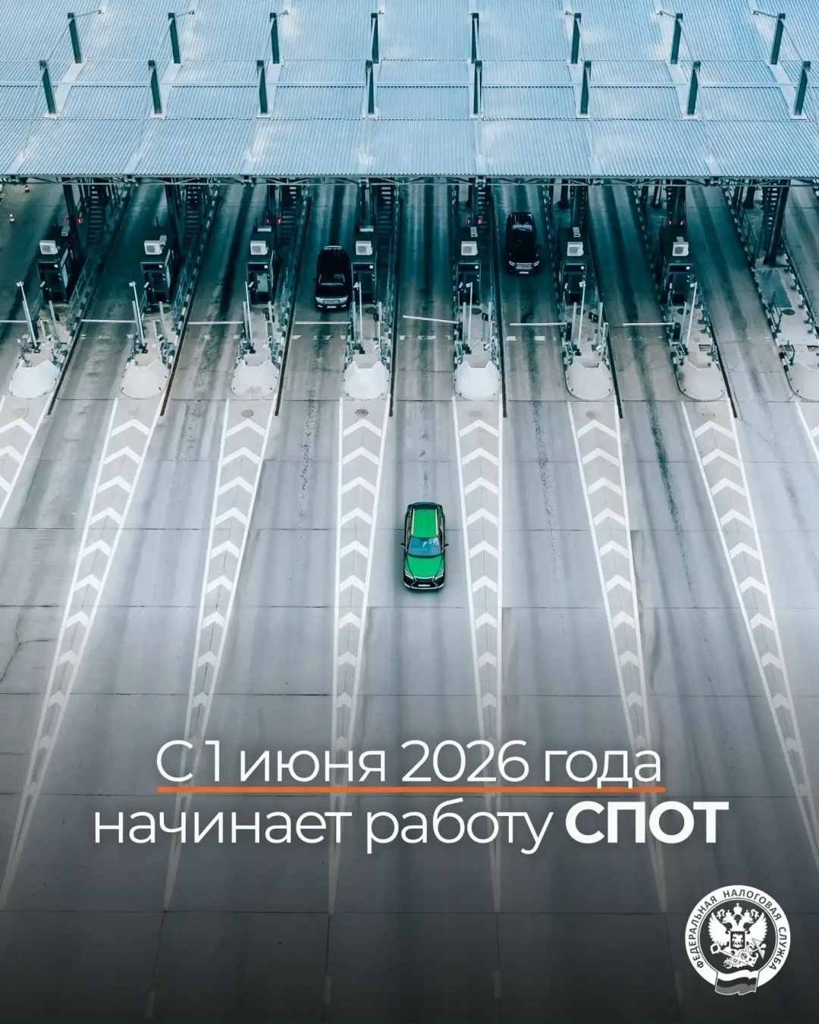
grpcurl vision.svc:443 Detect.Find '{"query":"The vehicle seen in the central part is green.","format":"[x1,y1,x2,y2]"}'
[397,502,451,590]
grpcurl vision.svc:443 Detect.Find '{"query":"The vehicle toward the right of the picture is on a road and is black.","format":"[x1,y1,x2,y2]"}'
[501,215,542,273]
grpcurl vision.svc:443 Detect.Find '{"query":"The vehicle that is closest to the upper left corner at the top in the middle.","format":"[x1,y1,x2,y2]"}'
[311,245,352,308]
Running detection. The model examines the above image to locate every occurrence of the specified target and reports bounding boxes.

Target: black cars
[311,245,352,308]
[501,215,542,273]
